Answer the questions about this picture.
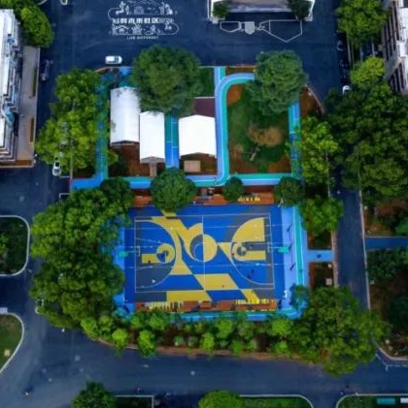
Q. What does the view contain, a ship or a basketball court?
basketball court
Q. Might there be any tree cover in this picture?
Yes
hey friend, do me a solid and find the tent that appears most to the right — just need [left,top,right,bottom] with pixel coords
[178,115,217,159]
